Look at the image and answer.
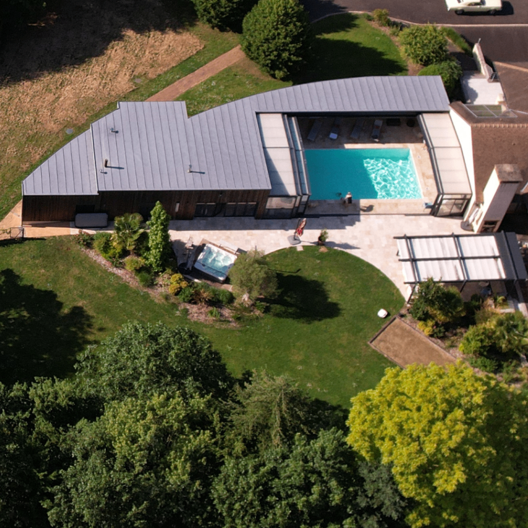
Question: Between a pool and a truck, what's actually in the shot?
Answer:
pool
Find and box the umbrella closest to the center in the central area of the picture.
[287,220,305,245]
